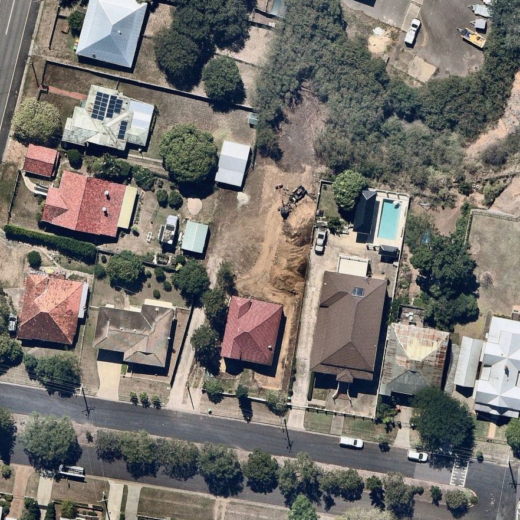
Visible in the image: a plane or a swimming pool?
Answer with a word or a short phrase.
swimming pool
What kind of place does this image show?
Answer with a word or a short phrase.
residential area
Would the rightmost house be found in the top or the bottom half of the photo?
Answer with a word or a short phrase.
bottom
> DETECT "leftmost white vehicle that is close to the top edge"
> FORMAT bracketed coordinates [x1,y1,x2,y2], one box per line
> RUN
[405,18,420,44]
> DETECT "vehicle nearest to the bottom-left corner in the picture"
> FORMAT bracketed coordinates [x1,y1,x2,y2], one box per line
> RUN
[59,464,85,478]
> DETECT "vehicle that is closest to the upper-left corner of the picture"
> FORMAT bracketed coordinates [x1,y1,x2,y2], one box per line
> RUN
[163,215,177,243]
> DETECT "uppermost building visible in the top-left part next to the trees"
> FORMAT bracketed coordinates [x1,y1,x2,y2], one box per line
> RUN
[75,0,148,69]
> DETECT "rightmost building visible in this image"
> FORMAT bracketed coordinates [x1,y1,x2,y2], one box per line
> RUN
[472,316,520,419]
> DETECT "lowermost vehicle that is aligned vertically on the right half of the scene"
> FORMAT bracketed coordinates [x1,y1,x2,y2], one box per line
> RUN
[314,227,326,251]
